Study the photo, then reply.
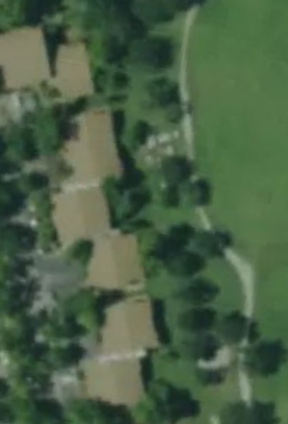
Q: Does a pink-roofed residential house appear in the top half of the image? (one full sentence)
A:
No, I see no pink-roofed residential house in the top half of the image.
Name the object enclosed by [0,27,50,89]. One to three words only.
house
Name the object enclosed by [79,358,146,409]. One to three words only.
house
